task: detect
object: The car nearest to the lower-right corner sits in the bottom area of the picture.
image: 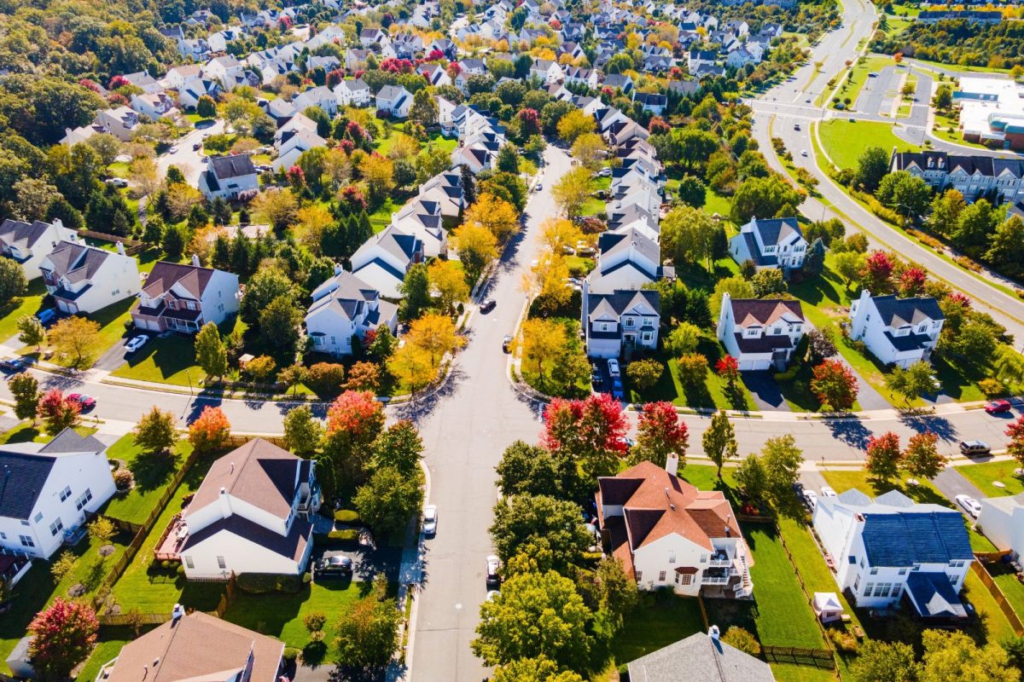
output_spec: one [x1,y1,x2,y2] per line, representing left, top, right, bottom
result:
[954,493,984,519]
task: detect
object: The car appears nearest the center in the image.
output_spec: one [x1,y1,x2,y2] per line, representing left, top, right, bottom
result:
[501,336,513,351]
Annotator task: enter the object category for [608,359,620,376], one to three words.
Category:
vehicle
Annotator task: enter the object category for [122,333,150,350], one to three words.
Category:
car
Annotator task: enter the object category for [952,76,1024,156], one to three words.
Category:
building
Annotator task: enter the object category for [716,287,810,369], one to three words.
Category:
house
